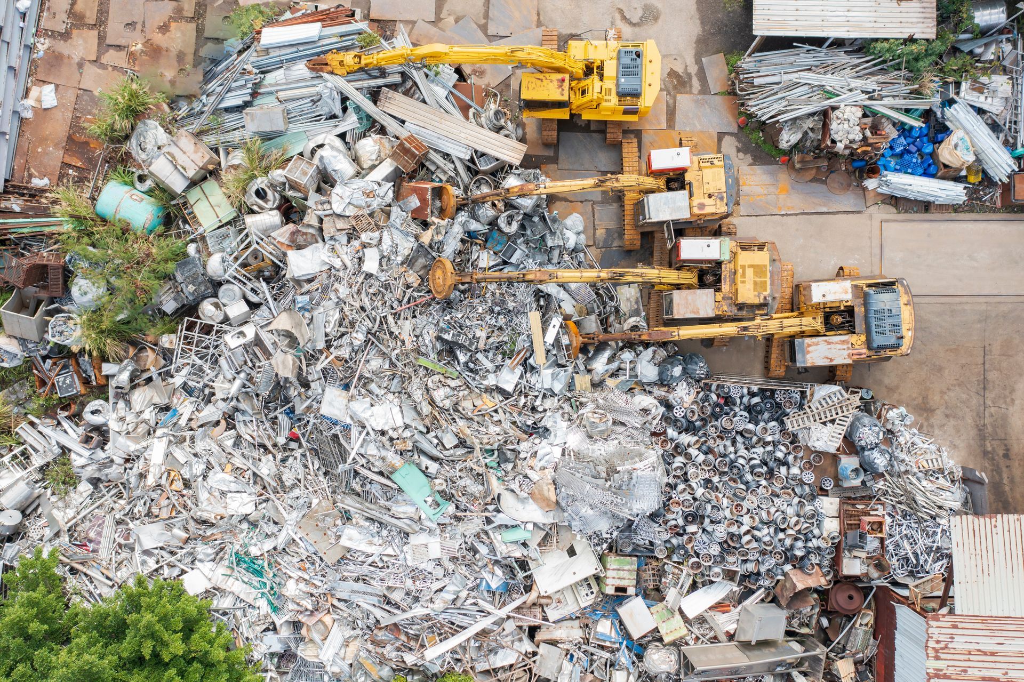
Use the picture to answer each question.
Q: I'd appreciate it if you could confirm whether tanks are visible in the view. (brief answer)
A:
Yes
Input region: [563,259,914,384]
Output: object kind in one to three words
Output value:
work vehicle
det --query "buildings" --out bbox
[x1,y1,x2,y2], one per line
[730,0,937,38]
[925,614,1024,682]
[950,514,1024,617]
